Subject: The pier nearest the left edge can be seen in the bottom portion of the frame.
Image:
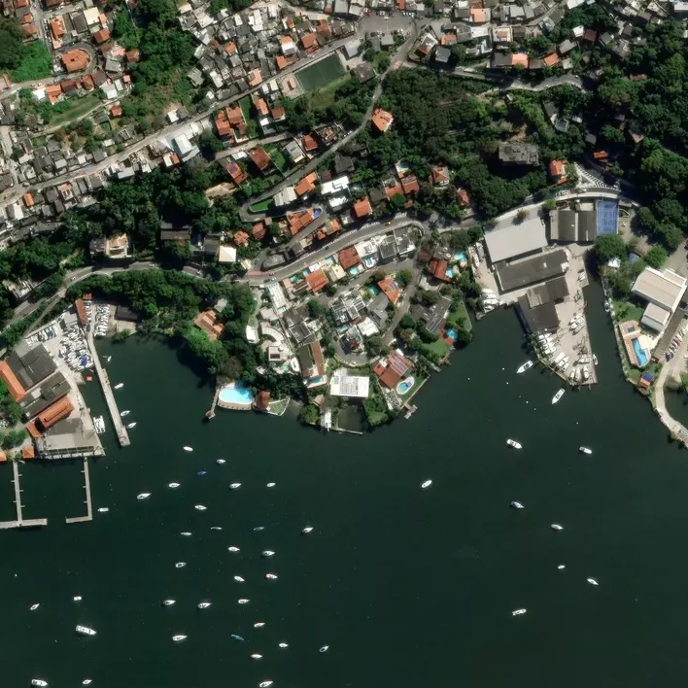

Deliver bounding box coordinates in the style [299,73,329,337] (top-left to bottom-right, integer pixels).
[0,460,47,529]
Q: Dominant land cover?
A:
water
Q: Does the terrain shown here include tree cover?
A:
Yes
